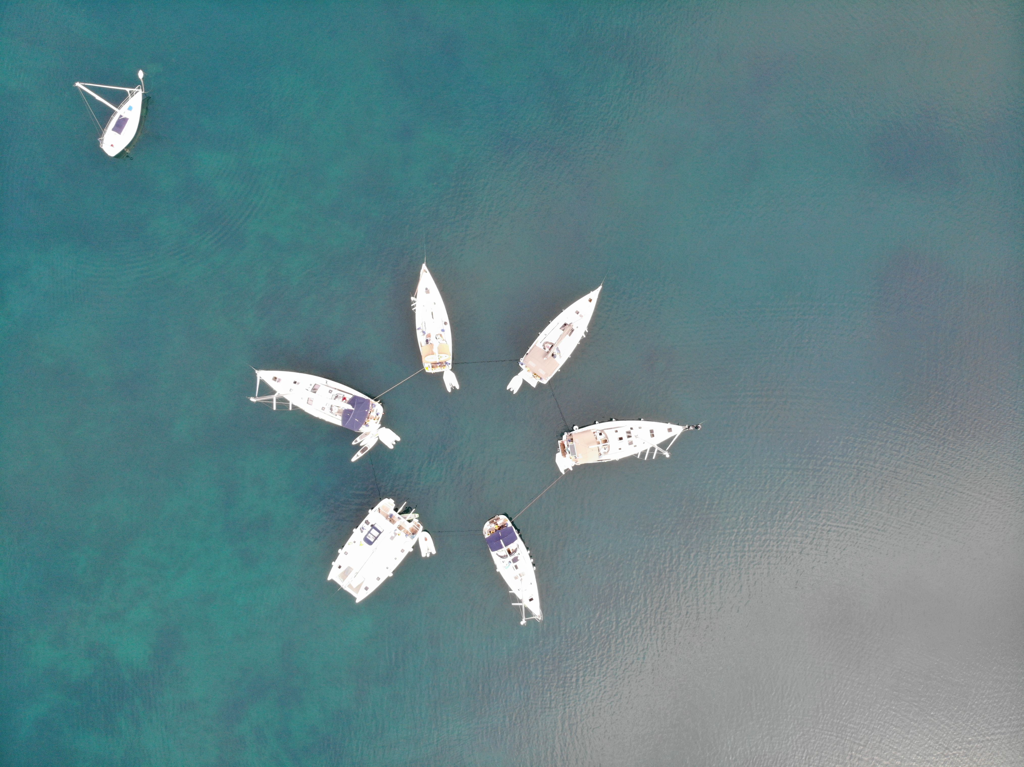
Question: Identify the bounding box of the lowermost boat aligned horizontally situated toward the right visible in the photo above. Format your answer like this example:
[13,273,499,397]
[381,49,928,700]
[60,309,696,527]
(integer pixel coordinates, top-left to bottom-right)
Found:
[558,421,684,465]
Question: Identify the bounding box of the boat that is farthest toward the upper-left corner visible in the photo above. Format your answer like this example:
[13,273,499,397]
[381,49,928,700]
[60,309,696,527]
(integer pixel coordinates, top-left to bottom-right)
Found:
[77,82,145,156]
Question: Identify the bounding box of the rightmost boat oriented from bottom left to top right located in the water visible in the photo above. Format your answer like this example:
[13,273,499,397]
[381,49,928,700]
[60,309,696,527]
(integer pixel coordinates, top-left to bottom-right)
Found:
[518,285,603,387]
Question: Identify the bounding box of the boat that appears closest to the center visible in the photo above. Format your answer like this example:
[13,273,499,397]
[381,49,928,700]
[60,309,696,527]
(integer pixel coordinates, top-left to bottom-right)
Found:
[506,375,523,396]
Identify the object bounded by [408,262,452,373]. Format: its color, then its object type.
white boat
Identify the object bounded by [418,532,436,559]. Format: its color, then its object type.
white boat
